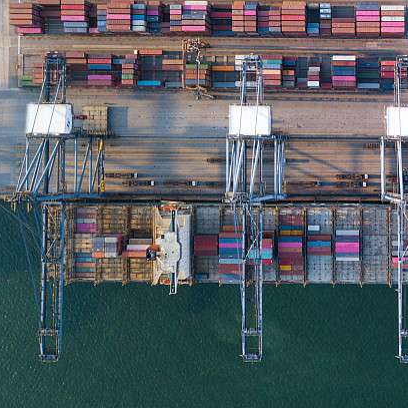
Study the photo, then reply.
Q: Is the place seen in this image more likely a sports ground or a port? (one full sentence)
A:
What you see here is a port.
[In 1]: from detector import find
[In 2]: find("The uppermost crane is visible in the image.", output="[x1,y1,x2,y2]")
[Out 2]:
[178,36,209,91]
